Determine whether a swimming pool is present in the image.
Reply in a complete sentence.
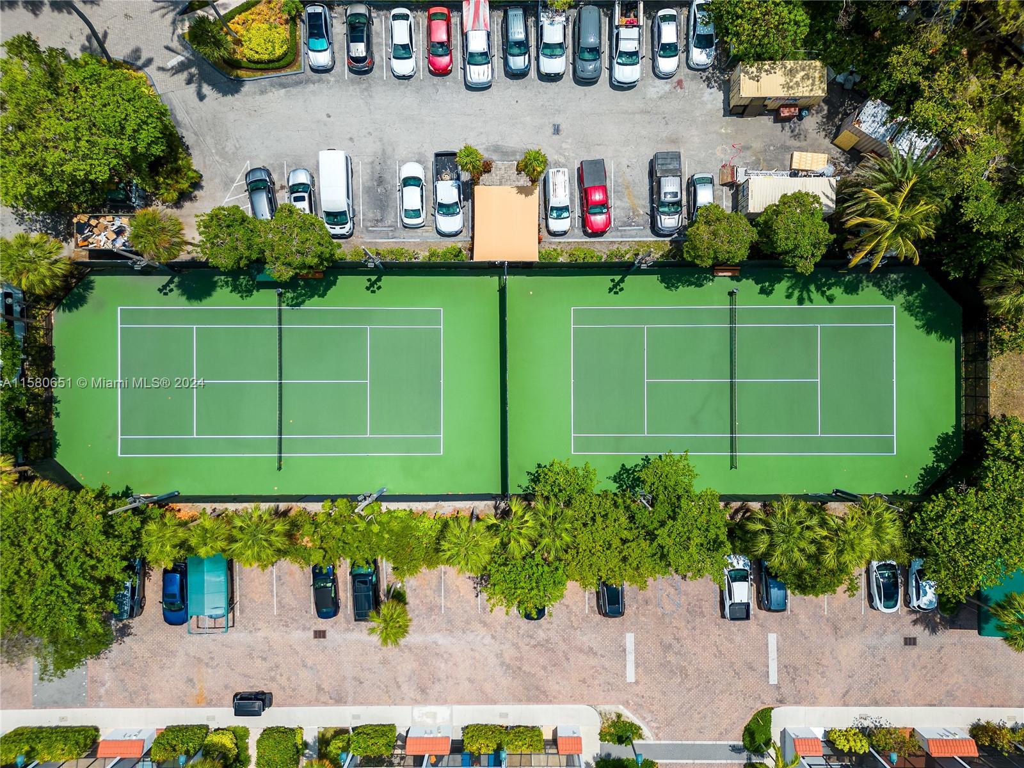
No, the frame has no swimming pool in it.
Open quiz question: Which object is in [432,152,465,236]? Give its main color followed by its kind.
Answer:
white vehicle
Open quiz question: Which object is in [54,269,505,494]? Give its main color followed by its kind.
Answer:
green tennis court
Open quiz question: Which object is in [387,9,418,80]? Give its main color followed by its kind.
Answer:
white car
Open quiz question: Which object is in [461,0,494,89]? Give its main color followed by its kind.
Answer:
white vehicle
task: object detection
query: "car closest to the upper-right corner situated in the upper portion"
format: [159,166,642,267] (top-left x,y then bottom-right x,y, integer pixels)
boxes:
[687,0,720,69]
